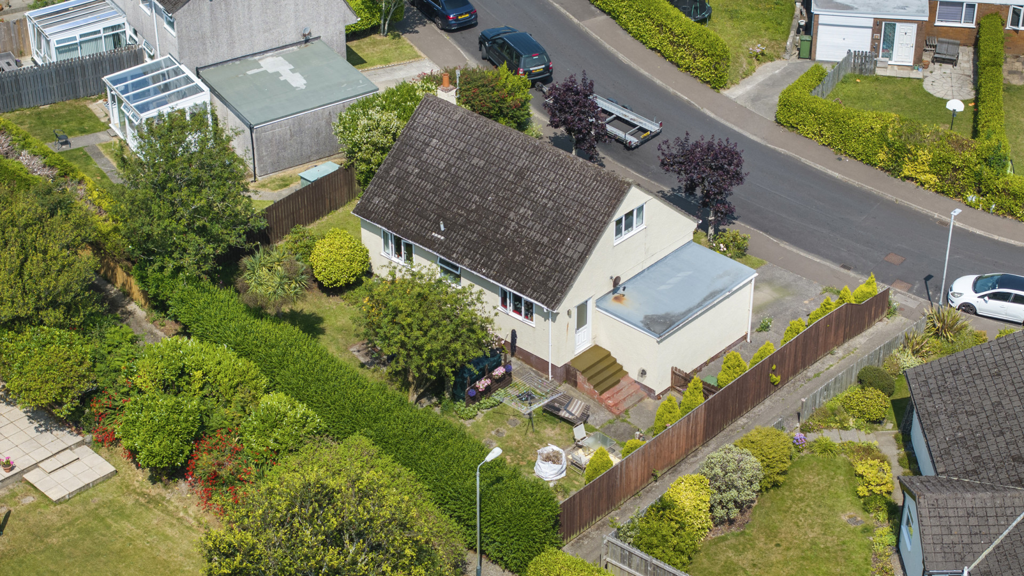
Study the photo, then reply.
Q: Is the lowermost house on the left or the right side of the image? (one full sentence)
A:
You can find the lowermost house on the right side of the picture.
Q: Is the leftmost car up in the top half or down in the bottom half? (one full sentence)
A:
The leftmost car is in the top half of the image.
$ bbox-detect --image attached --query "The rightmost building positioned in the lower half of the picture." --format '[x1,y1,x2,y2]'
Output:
[899,327,1024,576]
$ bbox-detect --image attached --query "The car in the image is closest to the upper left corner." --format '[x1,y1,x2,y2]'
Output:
[416,0,475,27]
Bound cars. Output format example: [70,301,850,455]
[481,32,552,85]
[951,276,1024,328]
[416,0,475,27]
